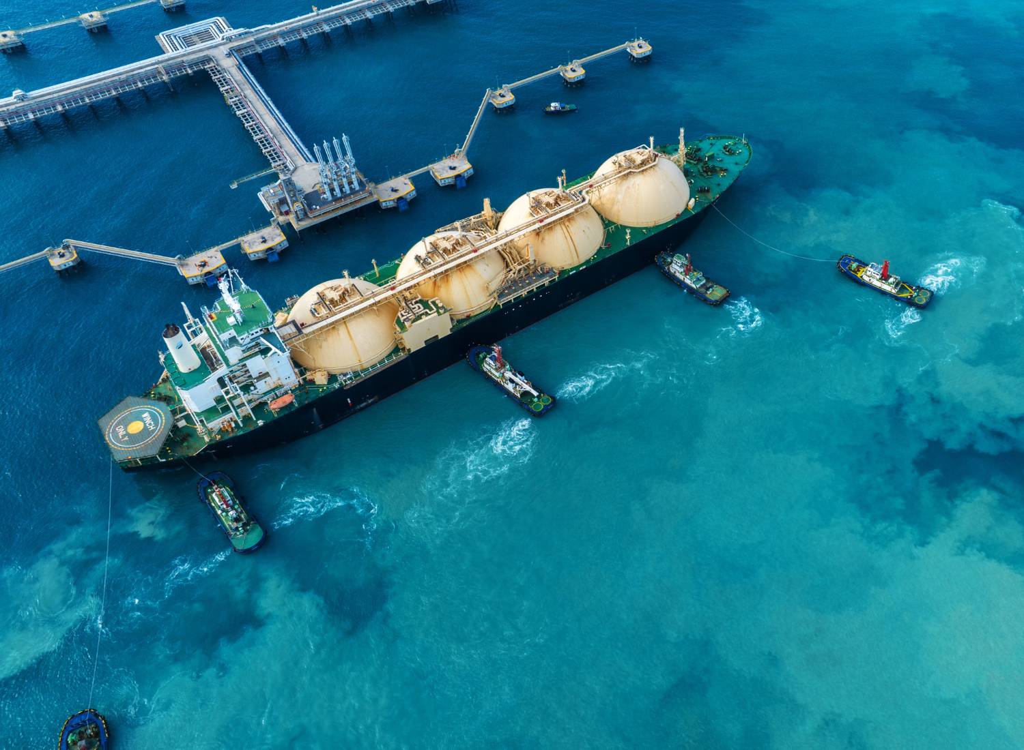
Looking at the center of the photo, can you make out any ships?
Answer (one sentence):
Yes, I can see a ship at the center of the photo.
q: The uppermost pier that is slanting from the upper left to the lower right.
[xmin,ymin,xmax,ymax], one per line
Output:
[152,45,318,181]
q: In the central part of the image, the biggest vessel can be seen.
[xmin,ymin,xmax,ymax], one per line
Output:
[98,125,751,470]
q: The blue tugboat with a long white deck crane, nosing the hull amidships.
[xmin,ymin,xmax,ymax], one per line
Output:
[468,341,560,418]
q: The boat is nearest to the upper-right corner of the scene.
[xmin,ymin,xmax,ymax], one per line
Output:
[835,249,934,312]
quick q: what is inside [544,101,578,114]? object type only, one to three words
boat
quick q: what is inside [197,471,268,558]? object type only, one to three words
boat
